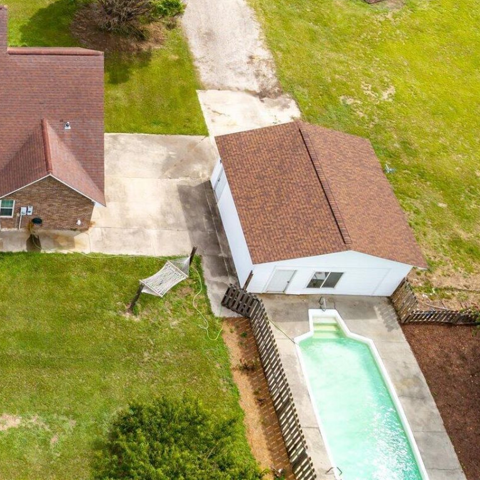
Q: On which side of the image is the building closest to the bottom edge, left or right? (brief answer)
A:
right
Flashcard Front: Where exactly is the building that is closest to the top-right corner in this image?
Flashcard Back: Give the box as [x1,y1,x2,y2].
[215,122,428,297]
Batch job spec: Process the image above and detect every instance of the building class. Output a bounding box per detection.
[215,122,428,297]
[0,6,107,231]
